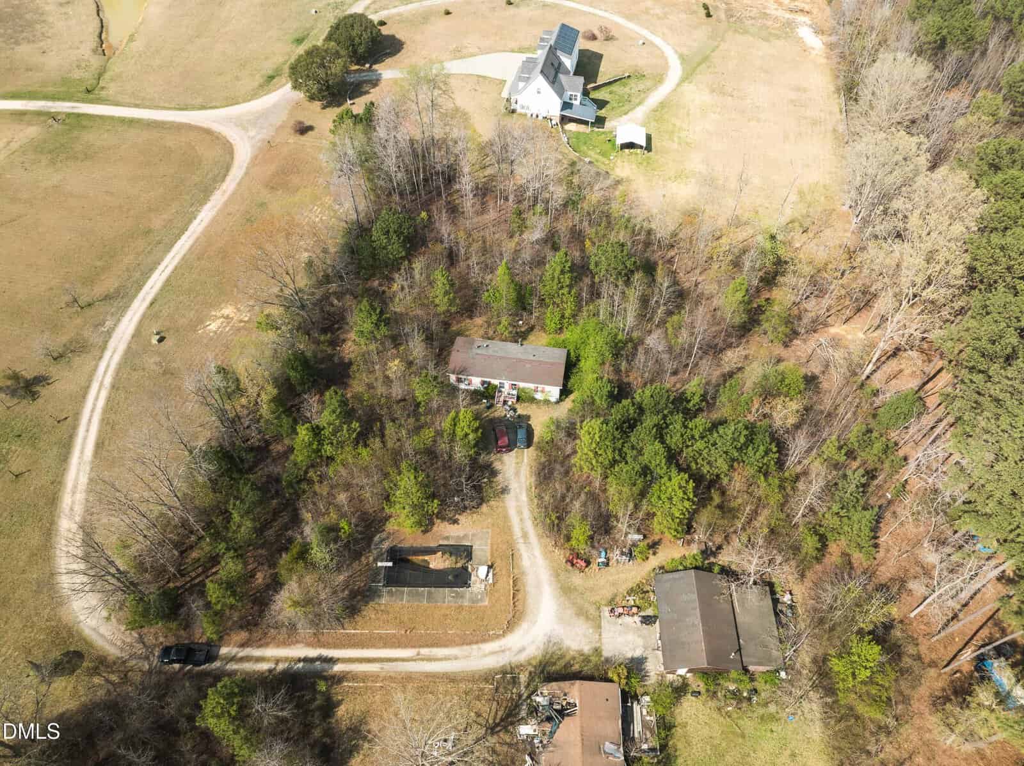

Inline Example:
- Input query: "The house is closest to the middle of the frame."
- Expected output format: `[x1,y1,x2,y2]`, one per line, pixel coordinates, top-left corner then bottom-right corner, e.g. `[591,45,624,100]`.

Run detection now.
[446,336,568,409]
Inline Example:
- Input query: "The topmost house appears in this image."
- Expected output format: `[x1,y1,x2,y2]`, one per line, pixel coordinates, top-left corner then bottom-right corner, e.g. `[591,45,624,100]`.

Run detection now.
[508,16,598,131]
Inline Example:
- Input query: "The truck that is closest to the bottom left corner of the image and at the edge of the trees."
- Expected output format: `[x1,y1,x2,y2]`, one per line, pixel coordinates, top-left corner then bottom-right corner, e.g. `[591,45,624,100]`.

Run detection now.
[155,647,210,670]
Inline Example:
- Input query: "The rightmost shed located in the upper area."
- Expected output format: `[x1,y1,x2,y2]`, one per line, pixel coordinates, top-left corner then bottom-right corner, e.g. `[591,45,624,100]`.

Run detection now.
[616,124,647,153]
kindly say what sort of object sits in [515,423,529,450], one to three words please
car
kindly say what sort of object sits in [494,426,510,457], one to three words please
car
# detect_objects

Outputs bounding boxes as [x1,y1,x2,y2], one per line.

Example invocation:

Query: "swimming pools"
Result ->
[363,532,490,605]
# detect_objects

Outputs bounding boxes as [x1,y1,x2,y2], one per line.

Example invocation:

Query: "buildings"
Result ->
[529,681,628,766]
[446,336,568,409]
[616,124,647,153]
[508,16,598,131]
[652,570,783,674]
